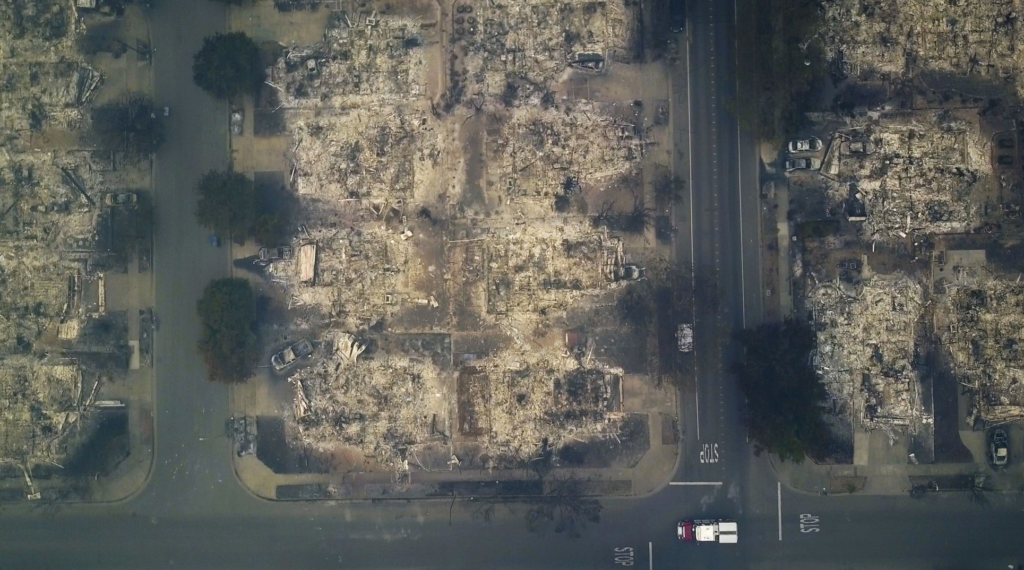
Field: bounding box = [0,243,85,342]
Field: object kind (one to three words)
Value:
house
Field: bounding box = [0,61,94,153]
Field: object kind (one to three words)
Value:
house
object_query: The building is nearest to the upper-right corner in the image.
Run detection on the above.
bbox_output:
[910,0,1024,73]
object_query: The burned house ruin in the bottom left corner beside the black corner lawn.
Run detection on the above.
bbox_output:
[0,360,86,469]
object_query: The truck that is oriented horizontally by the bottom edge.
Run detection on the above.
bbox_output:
[677,520,741,547]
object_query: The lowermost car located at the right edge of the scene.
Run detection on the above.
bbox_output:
[993,429,1011,470]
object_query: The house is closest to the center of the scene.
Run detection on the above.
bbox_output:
[477,221,626,320]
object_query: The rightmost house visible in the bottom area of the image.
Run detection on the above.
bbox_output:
[953,277,1024,420]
